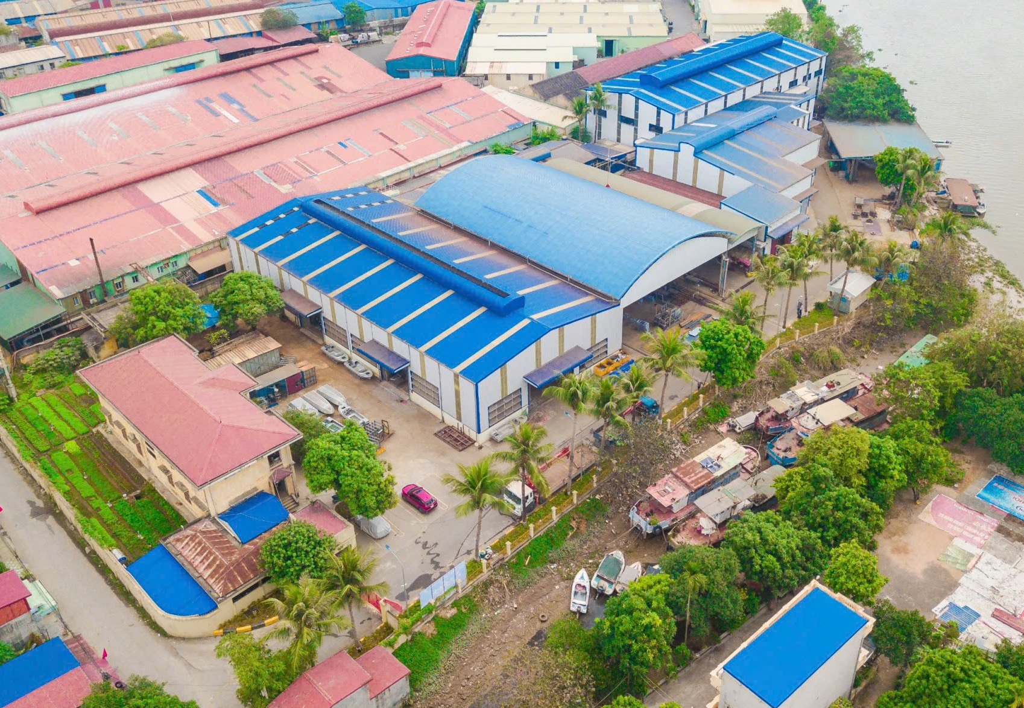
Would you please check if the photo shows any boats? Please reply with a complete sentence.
Yes, the picture does show a boat.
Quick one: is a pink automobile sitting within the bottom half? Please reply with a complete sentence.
Yes, I can see a pink automobile within the bottom half.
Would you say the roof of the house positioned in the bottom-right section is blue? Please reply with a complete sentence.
Yes, the roof of the house positioned in the bottom-right section appears blue.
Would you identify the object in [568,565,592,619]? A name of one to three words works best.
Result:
boat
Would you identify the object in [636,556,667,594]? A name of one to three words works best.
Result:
boat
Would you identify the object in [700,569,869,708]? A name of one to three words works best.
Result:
house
